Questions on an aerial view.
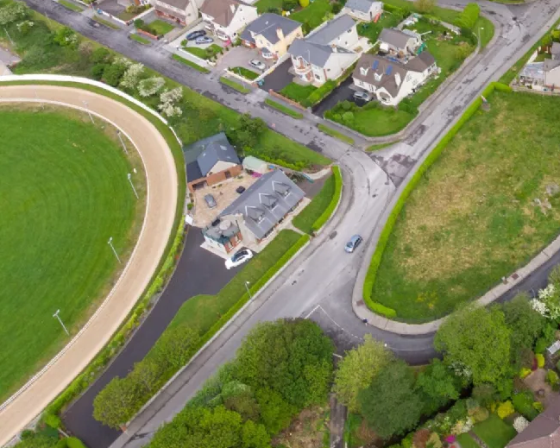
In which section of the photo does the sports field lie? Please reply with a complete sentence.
You can find the sports field in the left area of the picture.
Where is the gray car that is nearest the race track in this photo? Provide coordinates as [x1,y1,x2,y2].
[201,191,218,212]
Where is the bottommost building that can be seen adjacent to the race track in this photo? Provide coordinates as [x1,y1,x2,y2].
[204,172,305,256]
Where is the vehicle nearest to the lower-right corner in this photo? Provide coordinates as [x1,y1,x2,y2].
[344,234,363,254]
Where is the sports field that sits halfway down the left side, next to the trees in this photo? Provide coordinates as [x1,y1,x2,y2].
[0,108,135,392]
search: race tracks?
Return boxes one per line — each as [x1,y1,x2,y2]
[0,85,176,446]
